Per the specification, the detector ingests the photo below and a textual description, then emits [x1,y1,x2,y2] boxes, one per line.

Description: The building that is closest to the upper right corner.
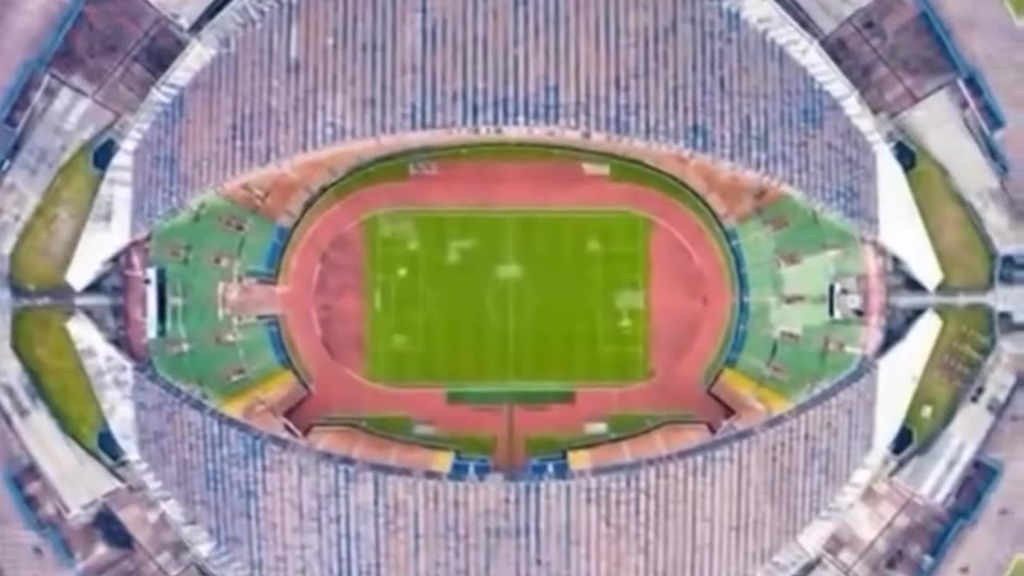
[891,141,918,168]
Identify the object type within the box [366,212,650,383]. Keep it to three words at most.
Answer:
soccer field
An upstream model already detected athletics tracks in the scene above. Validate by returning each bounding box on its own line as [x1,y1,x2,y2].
[280,147,735,478]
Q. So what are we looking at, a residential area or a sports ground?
sports ground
